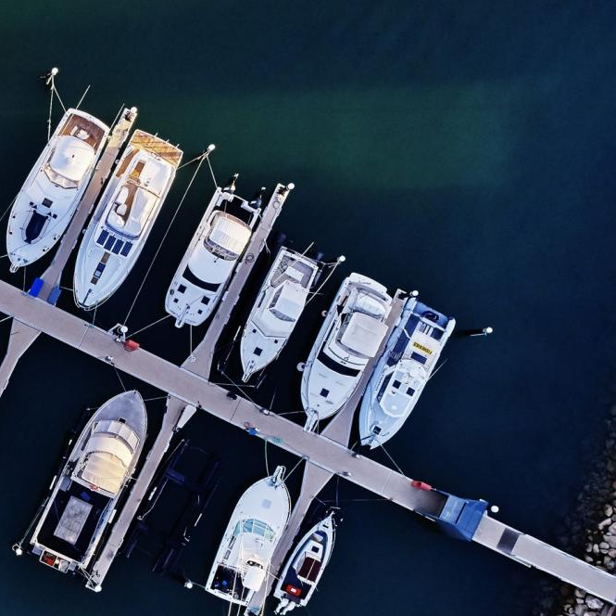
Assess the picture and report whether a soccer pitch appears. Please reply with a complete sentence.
No, the picture doesn't show any soccer pitch.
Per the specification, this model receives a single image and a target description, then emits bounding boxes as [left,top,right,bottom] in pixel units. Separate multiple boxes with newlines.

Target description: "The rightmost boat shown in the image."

[359,297,457,450]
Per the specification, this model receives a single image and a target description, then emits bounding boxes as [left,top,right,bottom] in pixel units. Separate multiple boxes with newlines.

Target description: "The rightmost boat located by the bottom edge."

[273,510,337,616]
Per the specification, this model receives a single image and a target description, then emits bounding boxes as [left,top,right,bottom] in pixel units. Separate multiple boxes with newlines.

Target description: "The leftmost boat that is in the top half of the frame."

[6,85,124,272]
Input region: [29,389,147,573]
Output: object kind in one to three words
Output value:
boat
